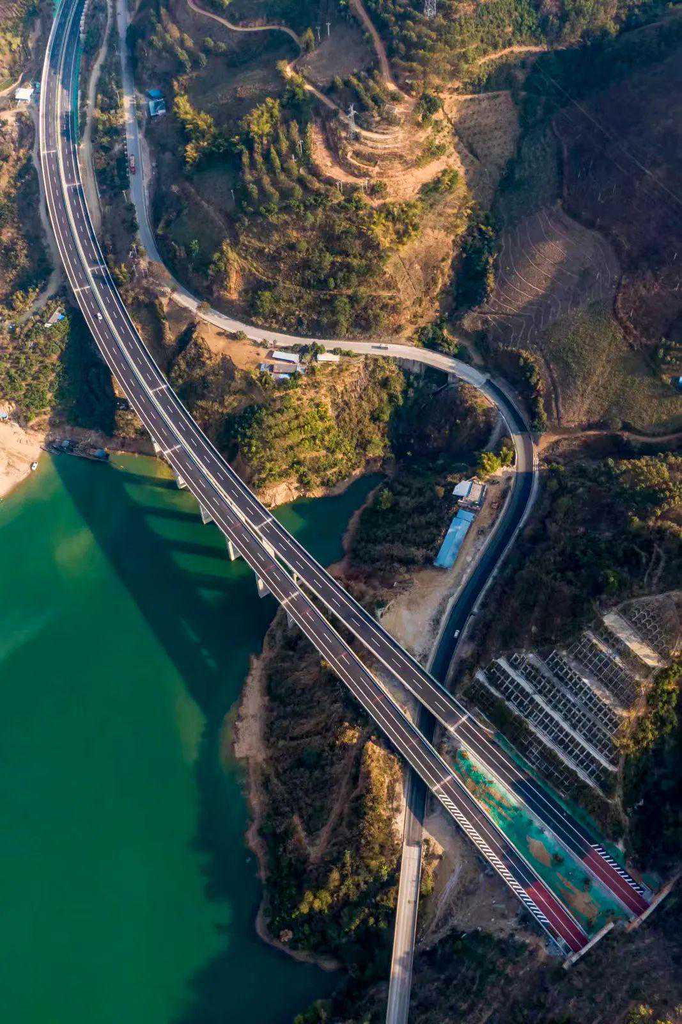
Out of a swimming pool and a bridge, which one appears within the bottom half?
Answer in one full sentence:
The feature located within the bottom half is a bridge.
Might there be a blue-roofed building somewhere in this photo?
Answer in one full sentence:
Yes, a blue-roofed building is visible in the scene.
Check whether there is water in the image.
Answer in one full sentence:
Yes, some water is visible.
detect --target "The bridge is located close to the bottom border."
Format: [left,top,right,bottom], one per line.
[386,845,422,1024]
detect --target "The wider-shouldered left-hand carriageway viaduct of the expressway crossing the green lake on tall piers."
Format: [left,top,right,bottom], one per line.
[41,151,447,783]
